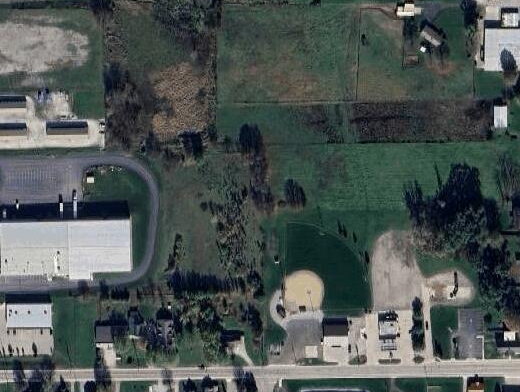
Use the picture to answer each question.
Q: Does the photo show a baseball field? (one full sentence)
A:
Yes, a baseball field appears in the view.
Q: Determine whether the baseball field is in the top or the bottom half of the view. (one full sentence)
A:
You can find the baseball field in the bottom half.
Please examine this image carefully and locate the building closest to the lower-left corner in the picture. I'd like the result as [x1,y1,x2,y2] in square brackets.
[7,303,51,329]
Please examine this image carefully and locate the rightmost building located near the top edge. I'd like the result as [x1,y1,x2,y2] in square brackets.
[485,13,520,70]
